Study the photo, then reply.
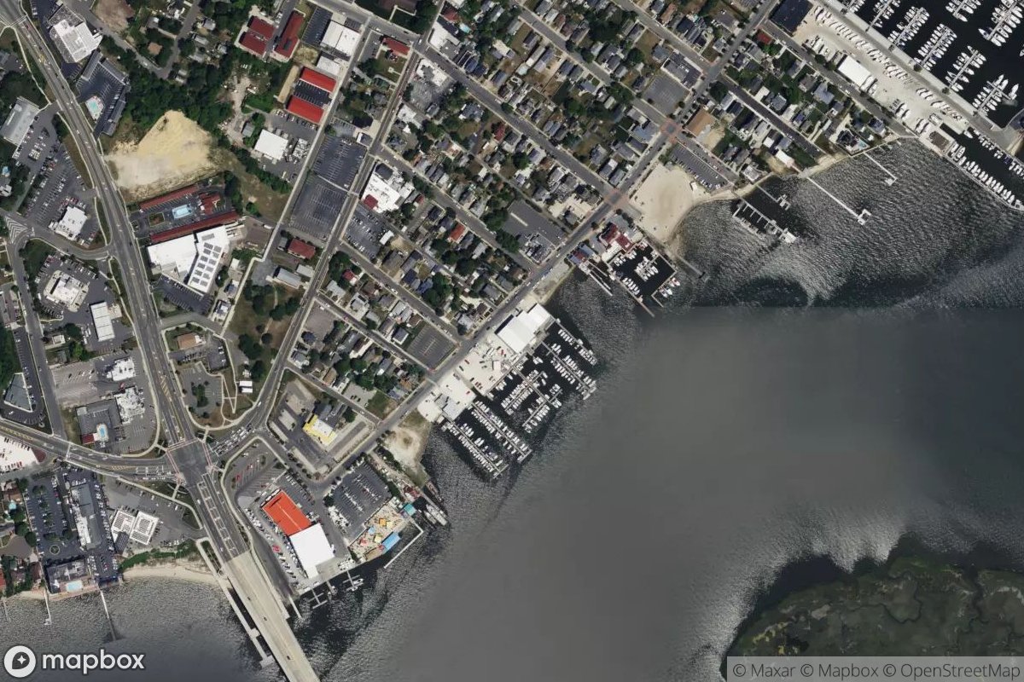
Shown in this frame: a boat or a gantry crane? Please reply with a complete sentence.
The image shows a boat.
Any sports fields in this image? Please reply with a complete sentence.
No, I find no sports field anywhere in the image.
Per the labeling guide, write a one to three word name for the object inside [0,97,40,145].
building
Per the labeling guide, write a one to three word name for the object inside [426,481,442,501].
boat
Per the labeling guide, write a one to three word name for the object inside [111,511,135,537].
house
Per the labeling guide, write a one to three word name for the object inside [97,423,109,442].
swimming pool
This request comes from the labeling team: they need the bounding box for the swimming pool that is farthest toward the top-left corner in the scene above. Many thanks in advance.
[85,95,104,117]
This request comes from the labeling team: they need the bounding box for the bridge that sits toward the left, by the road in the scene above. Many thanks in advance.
[218,542,317,682]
